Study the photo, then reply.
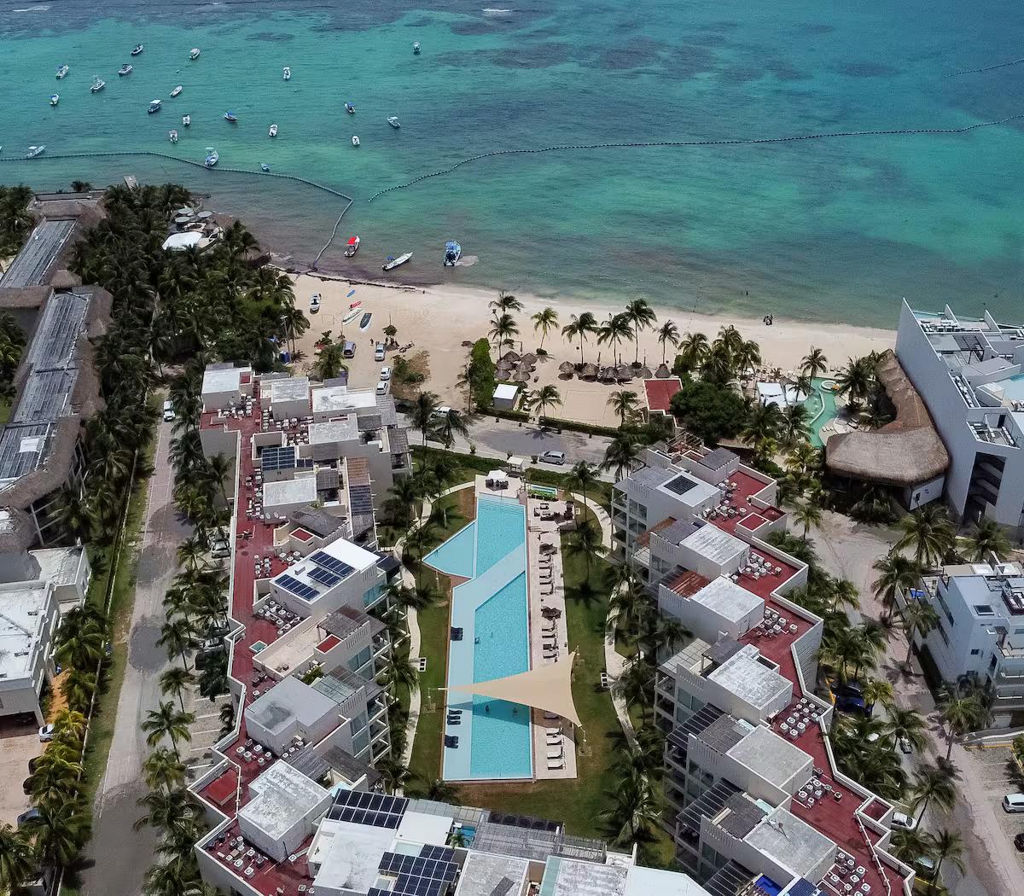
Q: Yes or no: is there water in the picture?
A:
Yes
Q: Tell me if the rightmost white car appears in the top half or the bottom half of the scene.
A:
bottom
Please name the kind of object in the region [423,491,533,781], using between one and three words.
swimming pool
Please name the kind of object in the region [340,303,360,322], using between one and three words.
boat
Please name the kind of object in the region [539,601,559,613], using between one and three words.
umbrella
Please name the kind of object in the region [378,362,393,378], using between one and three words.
car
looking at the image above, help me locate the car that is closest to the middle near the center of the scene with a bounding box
[537,447,567,461]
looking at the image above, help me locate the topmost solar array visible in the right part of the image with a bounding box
[665,476,698,495]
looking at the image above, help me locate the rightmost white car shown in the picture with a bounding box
[1002,789,1024,811]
